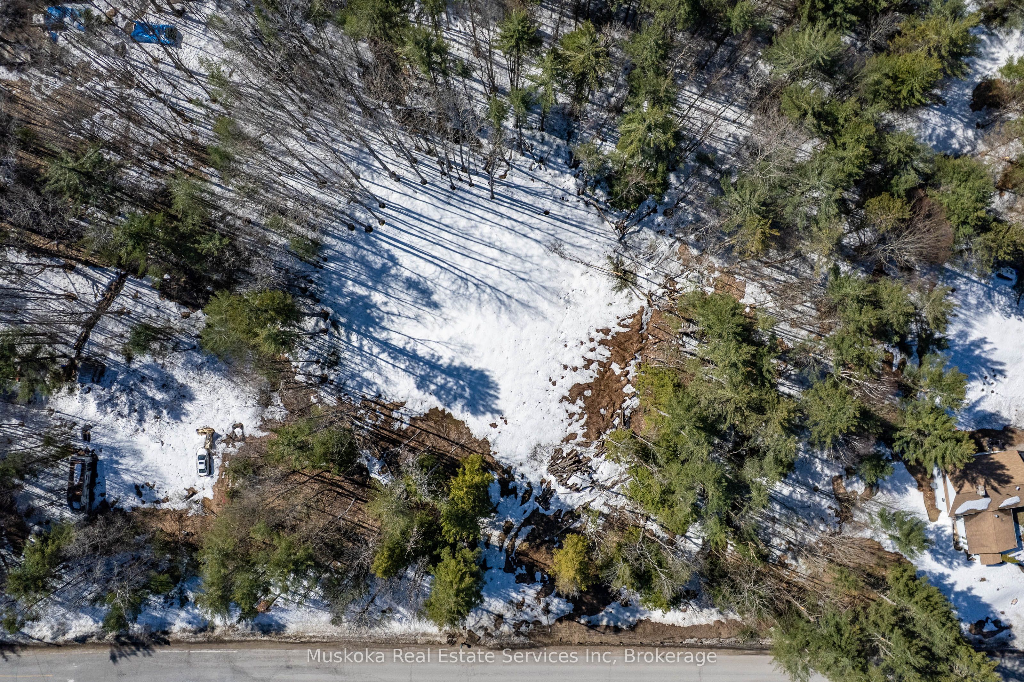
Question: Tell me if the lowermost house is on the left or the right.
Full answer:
You can find the lowermost house on the right side of the picture.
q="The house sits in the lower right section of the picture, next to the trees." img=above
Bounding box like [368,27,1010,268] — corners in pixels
[936,454,1024,561]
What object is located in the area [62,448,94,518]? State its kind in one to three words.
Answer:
trailer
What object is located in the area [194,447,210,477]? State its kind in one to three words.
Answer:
car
